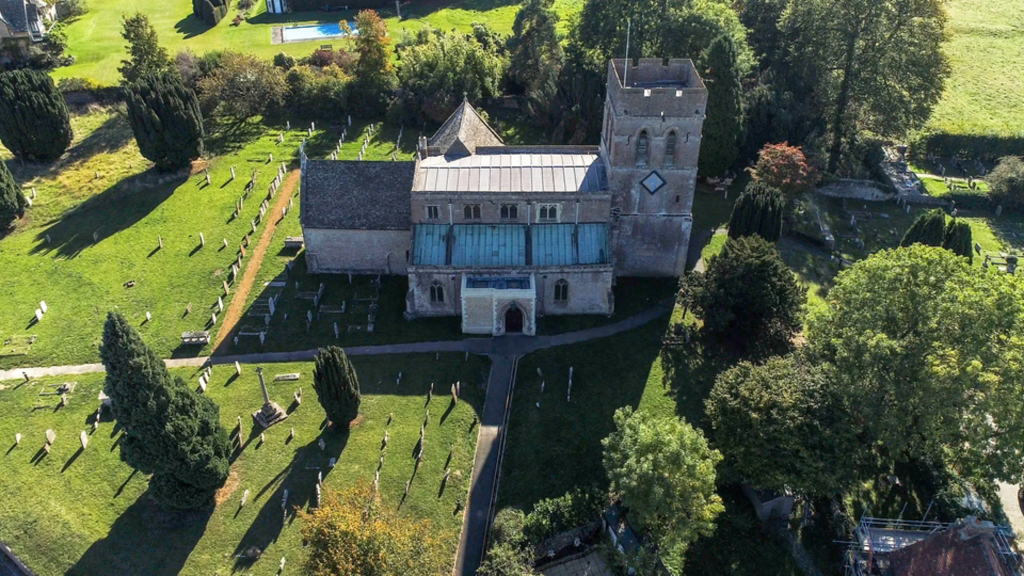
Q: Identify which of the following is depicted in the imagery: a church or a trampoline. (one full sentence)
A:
Visible in the photo is a church.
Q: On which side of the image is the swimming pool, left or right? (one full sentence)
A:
The swimming pool is on the left side of the image.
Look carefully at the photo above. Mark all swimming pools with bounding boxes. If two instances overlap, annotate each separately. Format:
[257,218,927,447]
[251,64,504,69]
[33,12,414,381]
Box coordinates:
[272,22,362,44]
